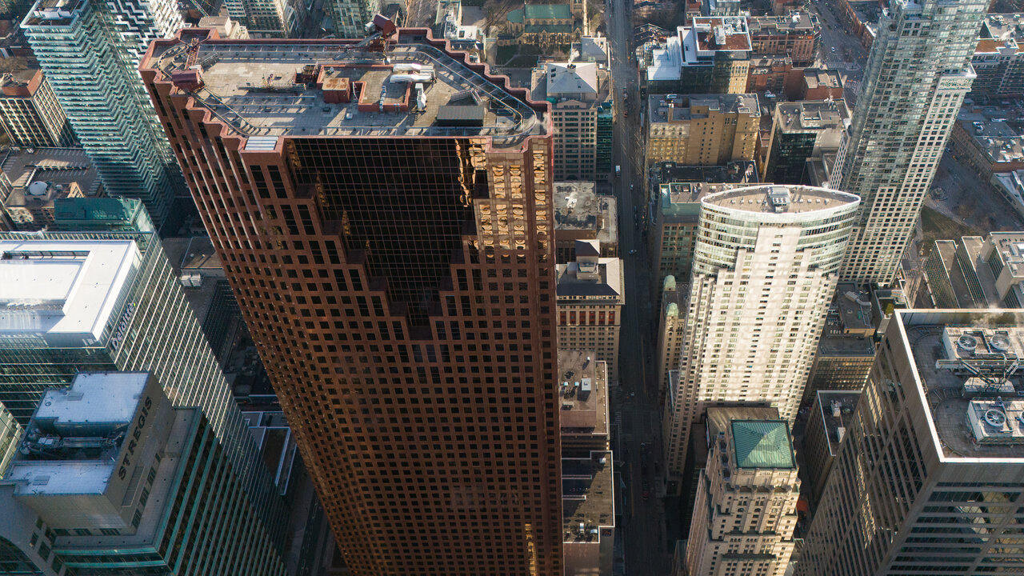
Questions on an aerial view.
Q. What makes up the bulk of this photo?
buildings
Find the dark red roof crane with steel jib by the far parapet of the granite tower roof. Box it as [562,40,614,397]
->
[327,16,400,56]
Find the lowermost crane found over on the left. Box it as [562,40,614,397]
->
[168,39,206,94]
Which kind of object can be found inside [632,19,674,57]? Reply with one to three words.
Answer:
building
